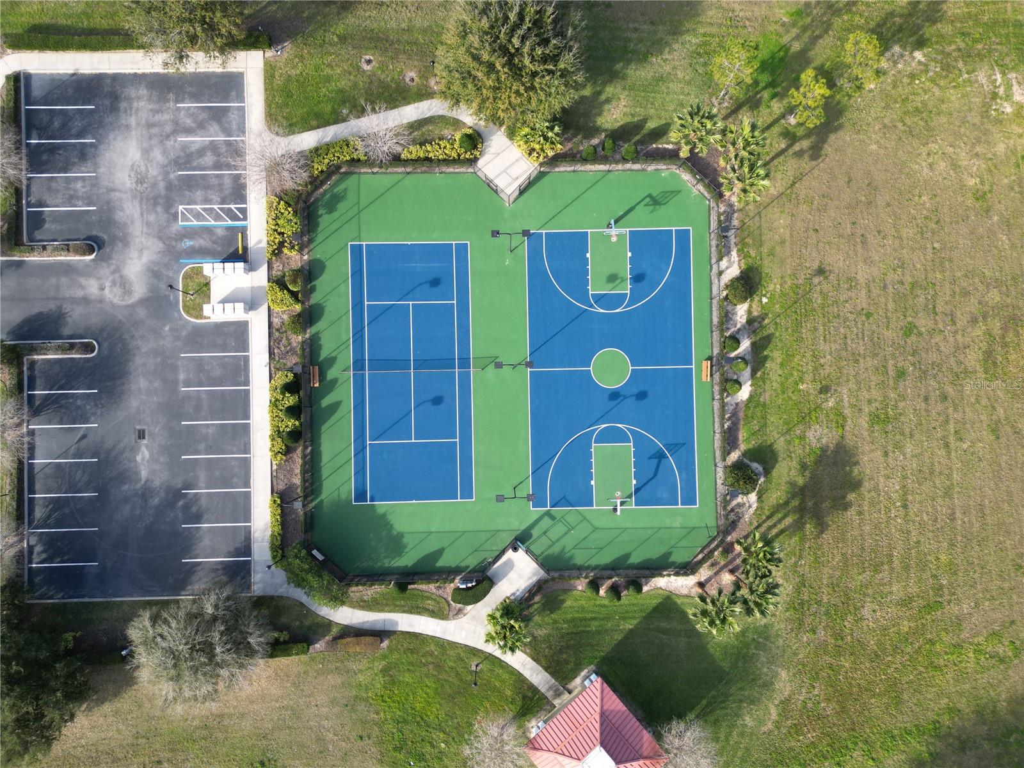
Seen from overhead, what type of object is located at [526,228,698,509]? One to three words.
basketball court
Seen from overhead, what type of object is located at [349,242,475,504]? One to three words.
tennis court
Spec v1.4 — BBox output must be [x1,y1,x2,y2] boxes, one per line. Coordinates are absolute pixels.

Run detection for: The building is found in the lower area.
[519,674,669,768]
